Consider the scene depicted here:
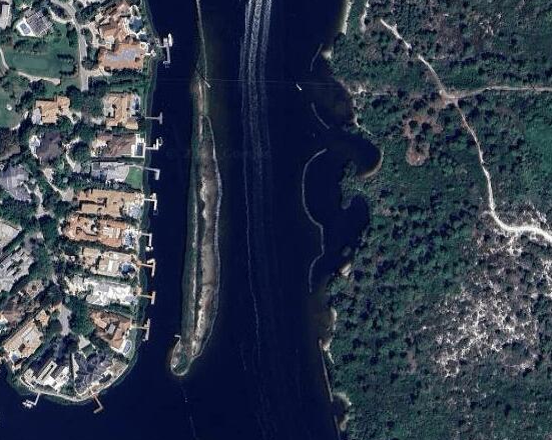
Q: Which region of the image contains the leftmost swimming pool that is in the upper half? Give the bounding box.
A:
[17,20,34,37]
